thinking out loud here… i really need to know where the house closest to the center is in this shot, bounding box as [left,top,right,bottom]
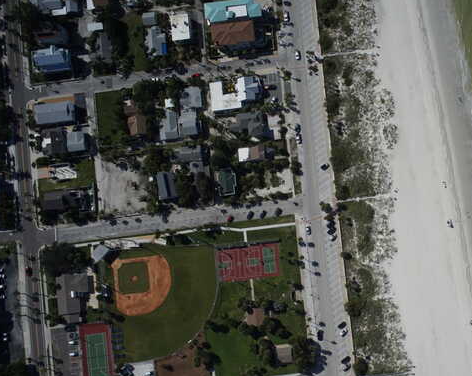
[215,168,238,197]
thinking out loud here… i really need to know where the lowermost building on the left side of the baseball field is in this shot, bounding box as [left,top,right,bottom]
[55,274,89,322]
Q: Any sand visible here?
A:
Yes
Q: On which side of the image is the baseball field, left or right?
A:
left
